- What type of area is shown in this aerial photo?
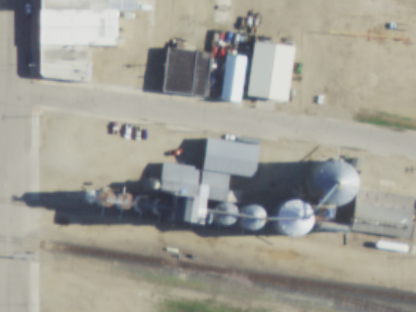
industrial area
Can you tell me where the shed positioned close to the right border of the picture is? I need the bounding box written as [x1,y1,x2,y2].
[353,191,415,236]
